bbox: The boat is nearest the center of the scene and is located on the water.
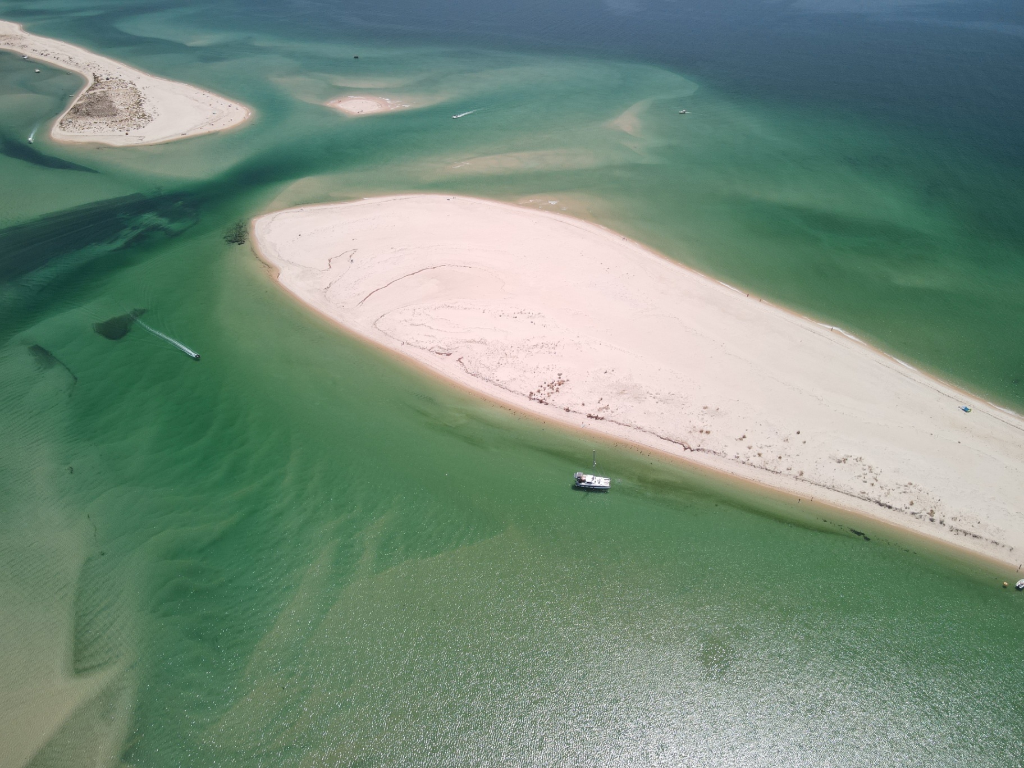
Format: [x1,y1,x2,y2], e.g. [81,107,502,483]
[573,450,612,490]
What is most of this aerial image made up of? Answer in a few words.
water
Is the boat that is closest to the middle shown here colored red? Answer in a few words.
No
